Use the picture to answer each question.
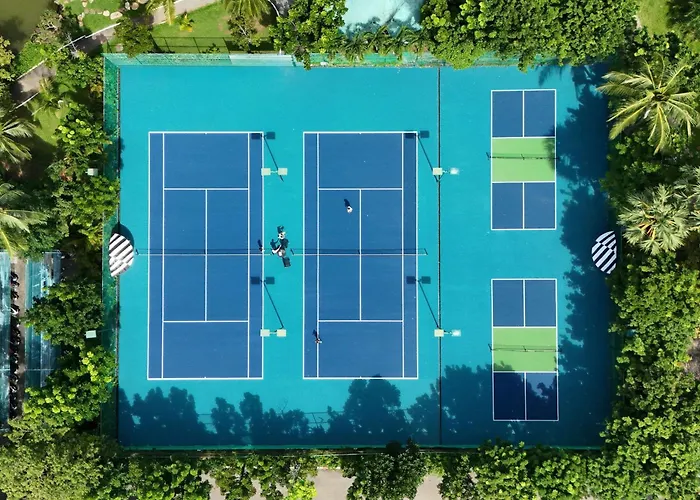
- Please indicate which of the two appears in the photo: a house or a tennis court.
tennis court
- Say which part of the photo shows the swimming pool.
top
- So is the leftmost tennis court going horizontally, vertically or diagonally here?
vertically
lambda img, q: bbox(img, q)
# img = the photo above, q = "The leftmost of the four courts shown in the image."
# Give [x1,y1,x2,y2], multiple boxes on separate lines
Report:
[148,131,262,380]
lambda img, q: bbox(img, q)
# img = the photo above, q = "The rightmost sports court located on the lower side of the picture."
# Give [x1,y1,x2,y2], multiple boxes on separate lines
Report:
[492,279,558,421]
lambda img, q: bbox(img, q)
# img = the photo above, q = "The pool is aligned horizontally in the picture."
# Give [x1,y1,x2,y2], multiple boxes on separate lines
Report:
[323,0,442,46]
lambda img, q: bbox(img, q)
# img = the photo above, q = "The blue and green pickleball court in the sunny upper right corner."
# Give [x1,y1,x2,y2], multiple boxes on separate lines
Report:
[492,90,556,229]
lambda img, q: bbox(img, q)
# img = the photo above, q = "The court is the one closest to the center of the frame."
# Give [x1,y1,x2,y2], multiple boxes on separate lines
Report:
[303,131,418,380]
